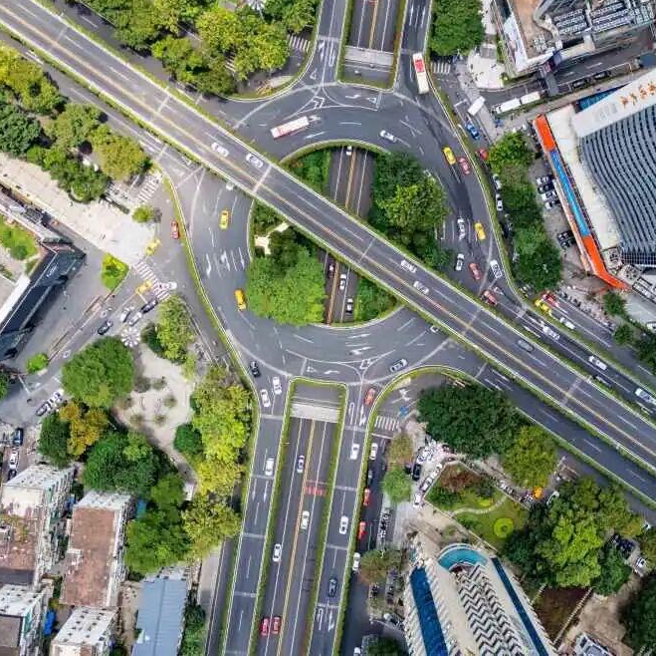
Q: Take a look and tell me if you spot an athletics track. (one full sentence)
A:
No, no athletics track is visible in the scene.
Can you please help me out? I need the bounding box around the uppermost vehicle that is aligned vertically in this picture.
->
[412,53,430,96]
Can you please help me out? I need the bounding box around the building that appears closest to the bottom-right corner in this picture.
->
[567,622,615,656]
